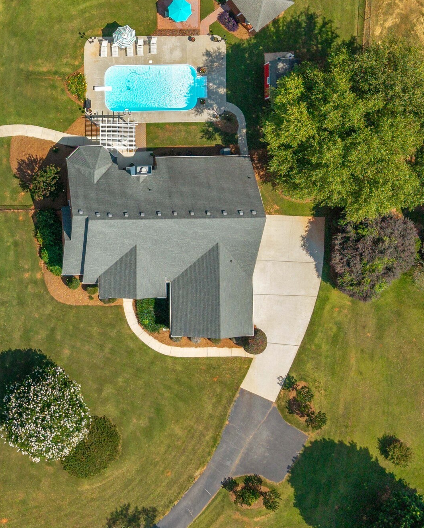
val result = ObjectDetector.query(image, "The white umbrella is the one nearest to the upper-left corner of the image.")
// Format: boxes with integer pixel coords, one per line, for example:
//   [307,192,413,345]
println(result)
[112,24,136,48]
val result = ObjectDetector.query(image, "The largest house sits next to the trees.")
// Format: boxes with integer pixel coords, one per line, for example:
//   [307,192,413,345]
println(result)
[61,145,266,340]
